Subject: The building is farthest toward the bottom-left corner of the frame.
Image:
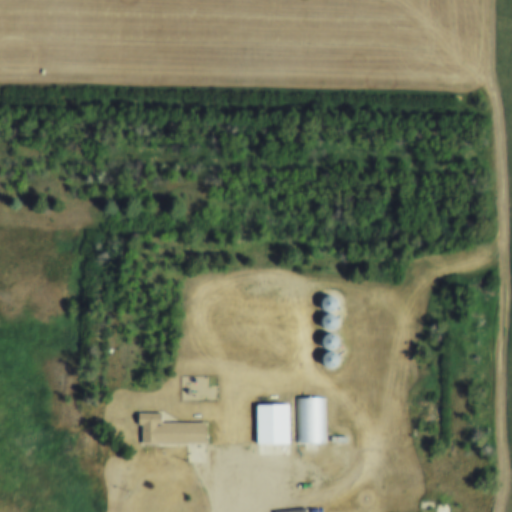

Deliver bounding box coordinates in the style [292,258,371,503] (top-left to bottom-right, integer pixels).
[139,413,208,446]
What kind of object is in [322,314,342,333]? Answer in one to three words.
silo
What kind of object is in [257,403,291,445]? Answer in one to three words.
barn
